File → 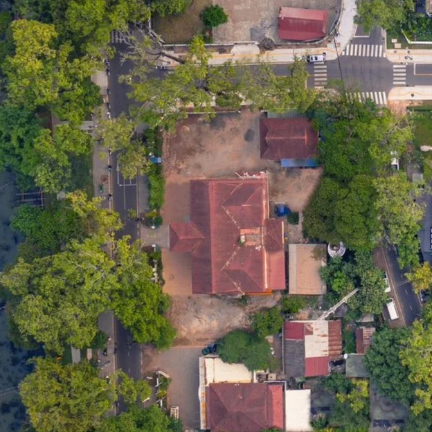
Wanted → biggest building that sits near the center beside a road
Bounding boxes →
[169,174,286,297]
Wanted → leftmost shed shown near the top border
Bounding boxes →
[279,6,328,41]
